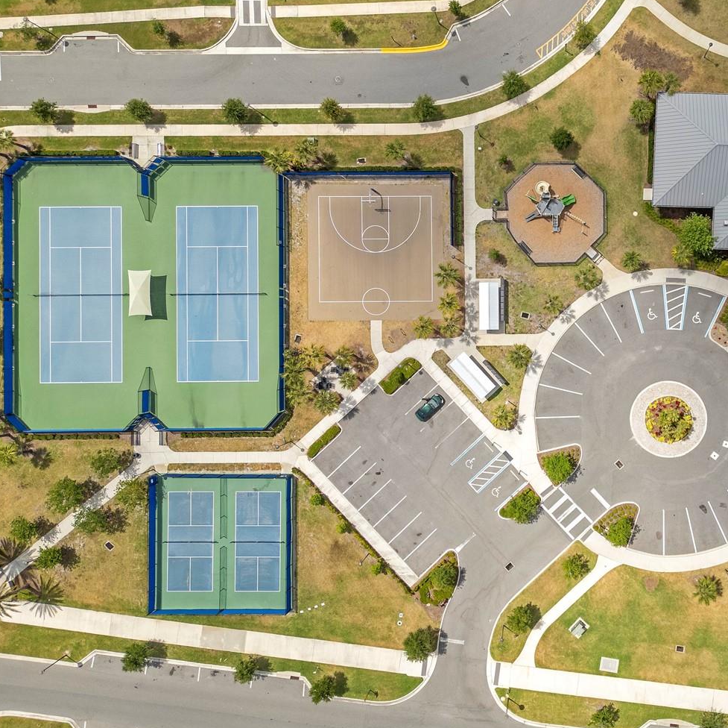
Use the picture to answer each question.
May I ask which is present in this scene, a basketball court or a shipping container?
basketball court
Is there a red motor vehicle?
No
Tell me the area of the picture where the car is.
center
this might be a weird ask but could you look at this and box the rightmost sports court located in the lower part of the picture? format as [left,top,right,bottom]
[229,492,285,592]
